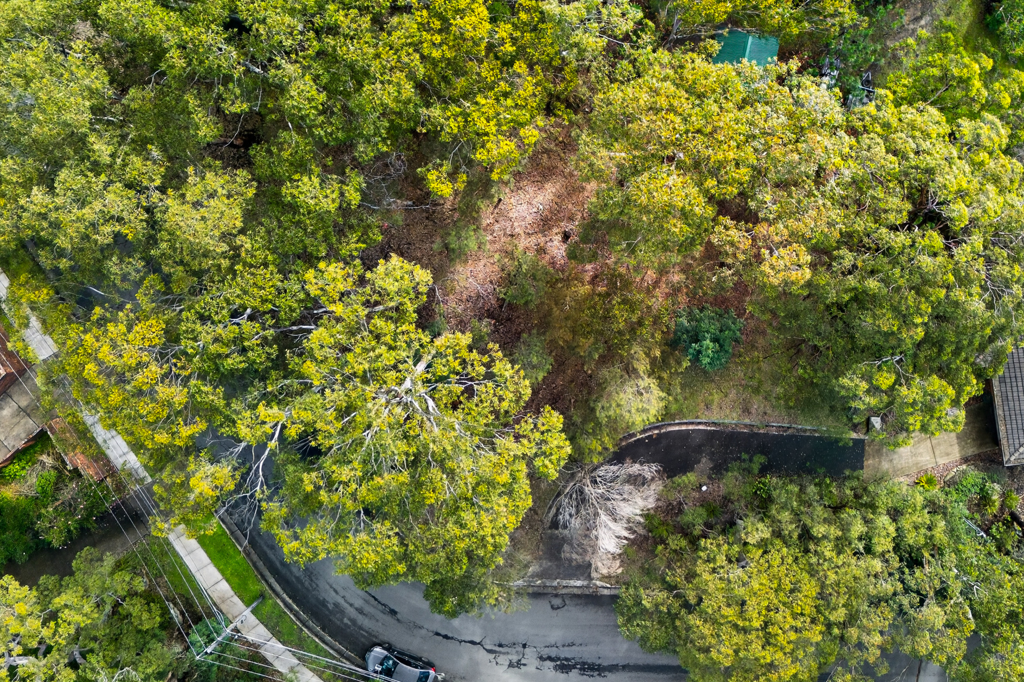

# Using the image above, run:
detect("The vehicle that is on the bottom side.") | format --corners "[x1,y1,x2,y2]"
[367,646,434,682]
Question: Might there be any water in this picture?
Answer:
No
